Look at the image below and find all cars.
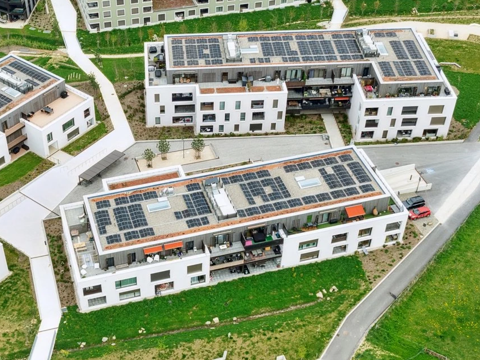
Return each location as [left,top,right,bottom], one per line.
[401,193,428,211]
[408,204,433,220]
